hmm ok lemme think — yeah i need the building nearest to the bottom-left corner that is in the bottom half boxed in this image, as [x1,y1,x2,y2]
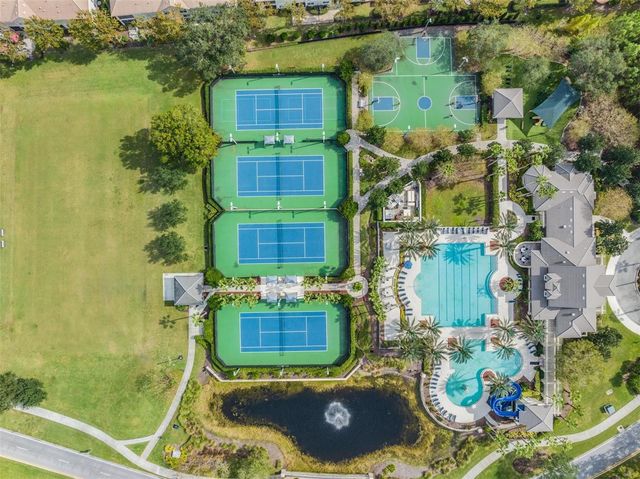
[174,275,206,305]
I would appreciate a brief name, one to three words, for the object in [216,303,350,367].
tennis court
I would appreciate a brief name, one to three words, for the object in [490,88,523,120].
building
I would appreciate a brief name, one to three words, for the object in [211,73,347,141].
tennis court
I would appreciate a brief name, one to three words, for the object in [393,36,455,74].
basketball court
